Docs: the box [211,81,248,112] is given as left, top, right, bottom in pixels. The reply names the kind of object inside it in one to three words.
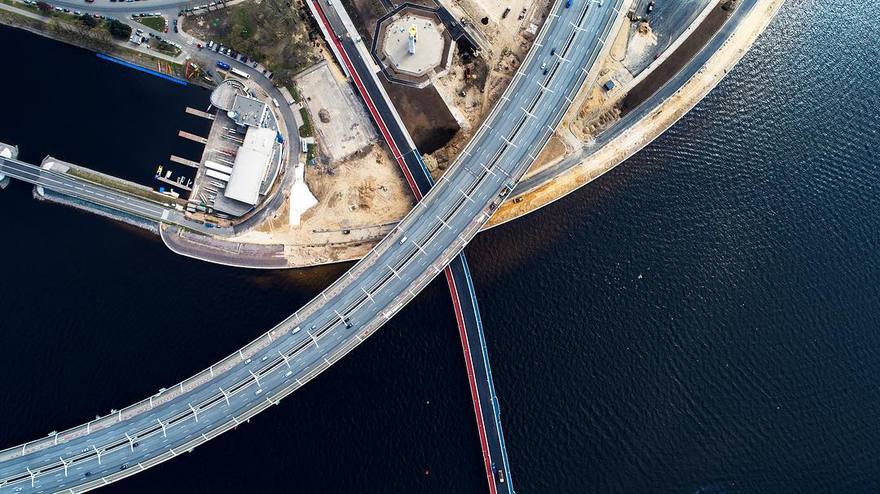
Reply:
building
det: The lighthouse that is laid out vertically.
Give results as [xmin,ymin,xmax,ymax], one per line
[404,28,416,58]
